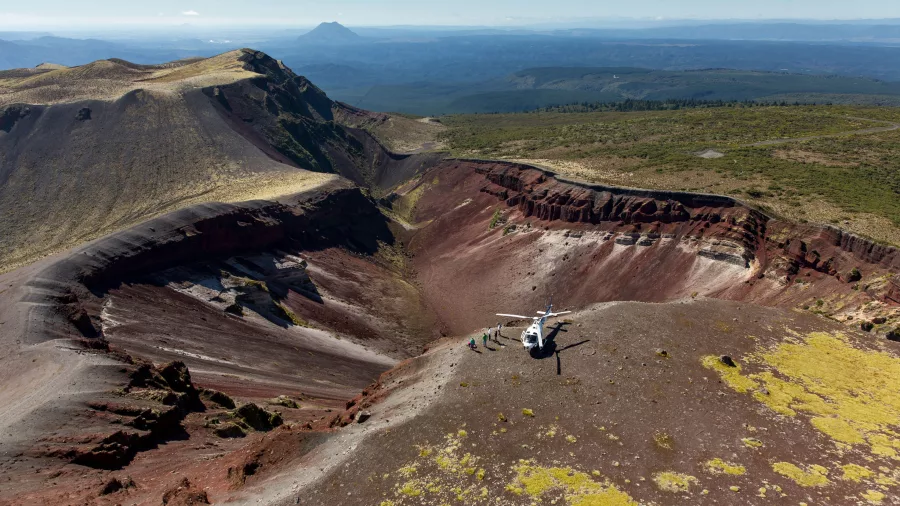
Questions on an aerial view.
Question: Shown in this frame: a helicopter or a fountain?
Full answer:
Looking from above, you can make out a helicopter.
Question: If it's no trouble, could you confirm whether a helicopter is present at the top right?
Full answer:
No, no helicopter appears at the top right.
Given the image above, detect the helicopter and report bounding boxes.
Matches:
[497,299,569,350]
